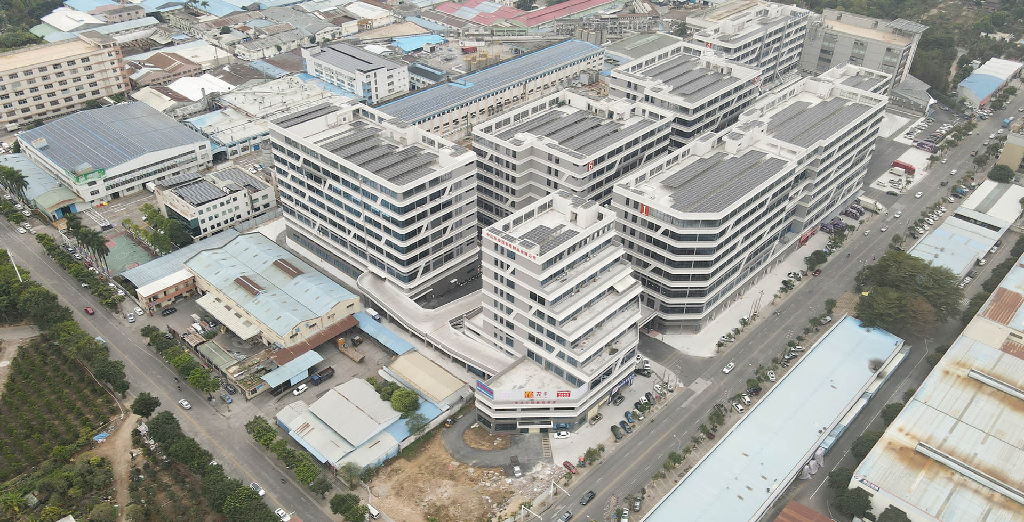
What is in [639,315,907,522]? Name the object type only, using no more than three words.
building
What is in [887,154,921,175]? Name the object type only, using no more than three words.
truck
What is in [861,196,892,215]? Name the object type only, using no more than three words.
vehicle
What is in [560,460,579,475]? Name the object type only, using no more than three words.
car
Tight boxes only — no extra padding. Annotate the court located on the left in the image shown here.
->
[86,234,152,291]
